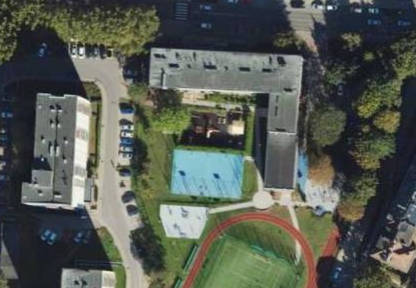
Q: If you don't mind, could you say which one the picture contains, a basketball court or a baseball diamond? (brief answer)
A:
basketball court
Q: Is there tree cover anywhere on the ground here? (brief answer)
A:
Yes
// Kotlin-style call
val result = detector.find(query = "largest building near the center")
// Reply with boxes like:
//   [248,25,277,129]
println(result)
[149,49,306,191]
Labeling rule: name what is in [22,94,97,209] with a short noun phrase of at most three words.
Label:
building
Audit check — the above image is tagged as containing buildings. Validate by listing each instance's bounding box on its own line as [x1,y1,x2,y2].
[61,268,114,288]
[372,162,416,270]
[149,49,306,191]
[22,94,97,209]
